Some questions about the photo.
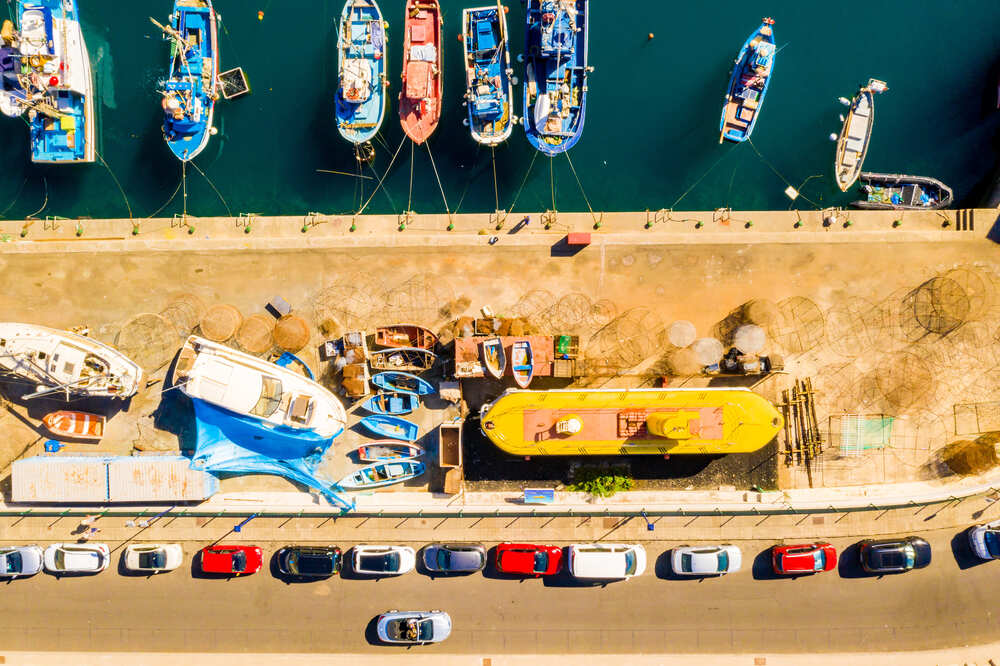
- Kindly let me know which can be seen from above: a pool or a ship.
ship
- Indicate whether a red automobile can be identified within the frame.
Yes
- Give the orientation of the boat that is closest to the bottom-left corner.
horizontally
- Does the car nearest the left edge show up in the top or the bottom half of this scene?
bottom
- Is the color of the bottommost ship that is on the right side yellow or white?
yellow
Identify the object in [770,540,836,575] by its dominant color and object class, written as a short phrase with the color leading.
red car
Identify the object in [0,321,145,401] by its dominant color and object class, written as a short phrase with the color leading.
white boat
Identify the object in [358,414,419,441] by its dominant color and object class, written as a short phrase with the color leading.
blue boat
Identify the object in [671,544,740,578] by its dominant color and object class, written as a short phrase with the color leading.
white car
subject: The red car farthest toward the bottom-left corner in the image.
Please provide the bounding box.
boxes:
[200,543,265,577]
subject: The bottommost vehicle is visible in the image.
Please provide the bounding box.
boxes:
[380,609,451,645]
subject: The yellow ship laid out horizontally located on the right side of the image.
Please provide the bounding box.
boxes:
[478,383,783,459]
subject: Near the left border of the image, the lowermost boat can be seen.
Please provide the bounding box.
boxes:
[40,410,108,438]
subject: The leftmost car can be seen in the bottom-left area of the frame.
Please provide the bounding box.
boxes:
[0,545,45,579]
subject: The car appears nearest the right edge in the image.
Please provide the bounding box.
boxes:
[963,523,1000,561]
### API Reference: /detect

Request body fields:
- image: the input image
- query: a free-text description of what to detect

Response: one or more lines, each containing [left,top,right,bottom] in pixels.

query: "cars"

[963,523,1000,561]
[380,609,451,645]
[858,536,931,572]
[200,543,265,577]
[770,540,836,575]
[0,545,45,579]
[277,545,343,581]
[569,543,647,581]
[496,542,562,576]
[352,543,415,577]
[44,543,112,577]
[424,542,486,575]
[124,542,185,574]
[671,544,740,578]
